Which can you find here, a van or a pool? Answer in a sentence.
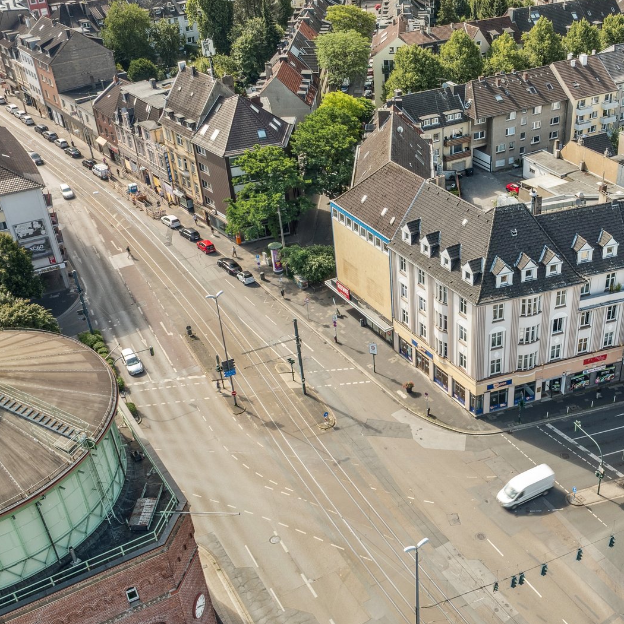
Looking from above, you can make out a van.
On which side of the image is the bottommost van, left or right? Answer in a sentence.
The bottommost van appears in the right half of the scene.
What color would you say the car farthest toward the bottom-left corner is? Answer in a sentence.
In this view, the car farthest toward the bottom-left corner is white.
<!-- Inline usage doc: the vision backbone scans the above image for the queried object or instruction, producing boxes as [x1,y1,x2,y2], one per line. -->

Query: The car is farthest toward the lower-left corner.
[119,345,144,376]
